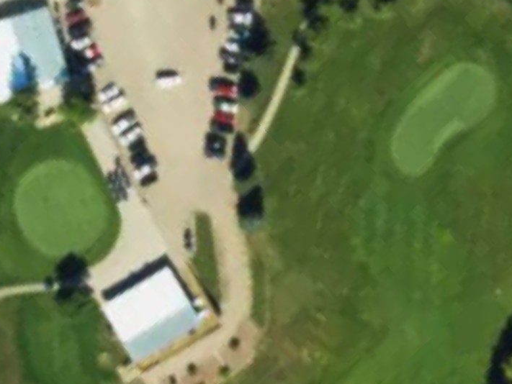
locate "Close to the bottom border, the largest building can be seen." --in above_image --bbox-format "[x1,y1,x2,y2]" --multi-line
[102,260,221,383]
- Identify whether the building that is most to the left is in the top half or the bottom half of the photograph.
top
